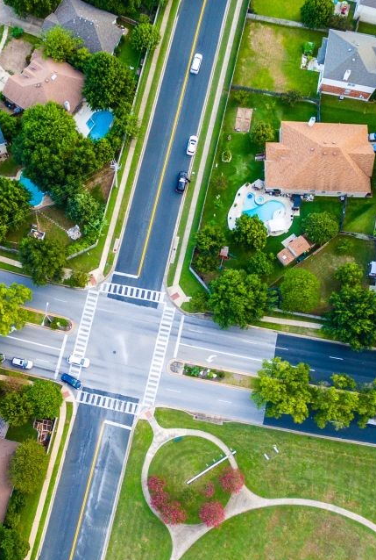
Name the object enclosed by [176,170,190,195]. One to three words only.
vehicle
